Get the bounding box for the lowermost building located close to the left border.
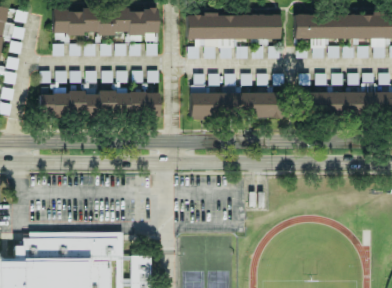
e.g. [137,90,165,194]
[0,232,132,288]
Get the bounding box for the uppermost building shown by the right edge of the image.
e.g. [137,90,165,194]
[295,13,392,38]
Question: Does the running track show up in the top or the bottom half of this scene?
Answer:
bottom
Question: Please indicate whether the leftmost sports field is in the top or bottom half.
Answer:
bottom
